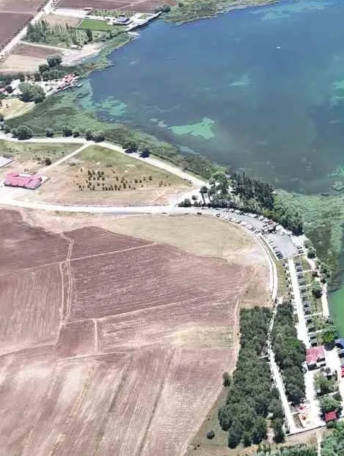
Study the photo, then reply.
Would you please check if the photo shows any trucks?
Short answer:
No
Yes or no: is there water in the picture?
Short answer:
Yes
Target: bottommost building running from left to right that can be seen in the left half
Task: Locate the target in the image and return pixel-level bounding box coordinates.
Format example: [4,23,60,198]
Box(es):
[2,173,49,190]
